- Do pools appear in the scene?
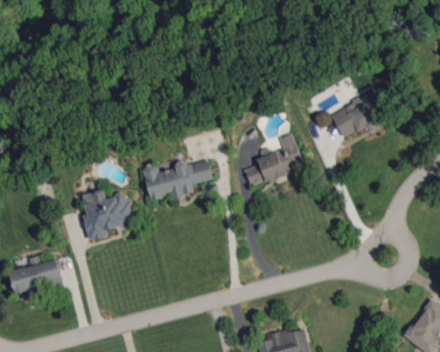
Yes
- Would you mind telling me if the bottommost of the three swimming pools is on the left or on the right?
left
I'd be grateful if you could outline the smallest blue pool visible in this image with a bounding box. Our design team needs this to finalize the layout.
[316,94,340,112]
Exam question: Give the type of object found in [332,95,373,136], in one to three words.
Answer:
house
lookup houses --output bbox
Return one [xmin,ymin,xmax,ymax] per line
[259,330,313,352]
[141,156,214,203]
[244,132,300,186]
[404,302,440,352]
[332,95,373,136]
[81,188,134,240]
[8,256,62,296]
